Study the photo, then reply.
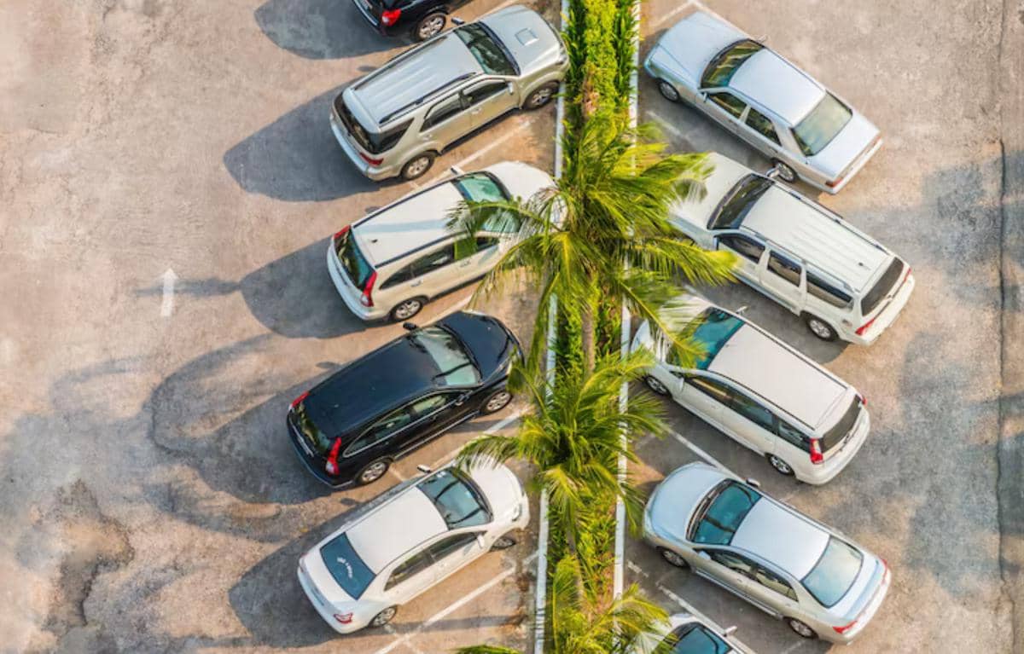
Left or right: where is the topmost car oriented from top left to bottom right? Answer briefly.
right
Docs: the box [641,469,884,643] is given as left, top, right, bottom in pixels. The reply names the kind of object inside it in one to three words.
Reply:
car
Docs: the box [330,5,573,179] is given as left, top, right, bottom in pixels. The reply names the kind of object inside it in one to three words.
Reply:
car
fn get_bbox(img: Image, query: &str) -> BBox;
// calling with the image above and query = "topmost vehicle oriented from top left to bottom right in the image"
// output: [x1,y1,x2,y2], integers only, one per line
[643,9,881,199]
